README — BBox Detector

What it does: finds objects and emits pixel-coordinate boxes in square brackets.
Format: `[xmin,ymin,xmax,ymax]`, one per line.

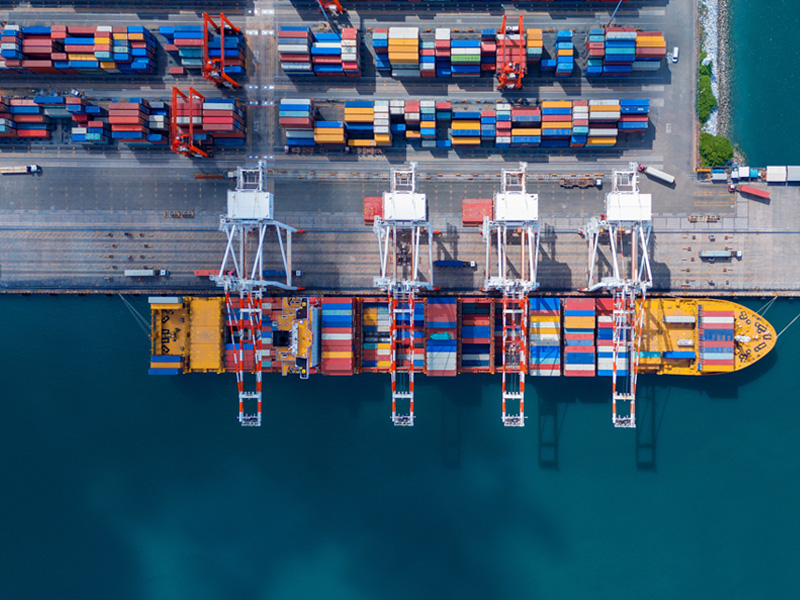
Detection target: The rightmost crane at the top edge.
[496,14,527,91]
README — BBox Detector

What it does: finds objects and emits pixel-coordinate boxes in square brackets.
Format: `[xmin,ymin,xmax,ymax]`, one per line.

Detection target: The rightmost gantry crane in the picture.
[570,161,655,428]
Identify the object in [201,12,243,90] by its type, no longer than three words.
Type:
crane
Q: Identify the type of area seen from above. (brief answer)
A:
port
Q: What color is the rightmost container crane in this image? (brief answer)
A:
white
